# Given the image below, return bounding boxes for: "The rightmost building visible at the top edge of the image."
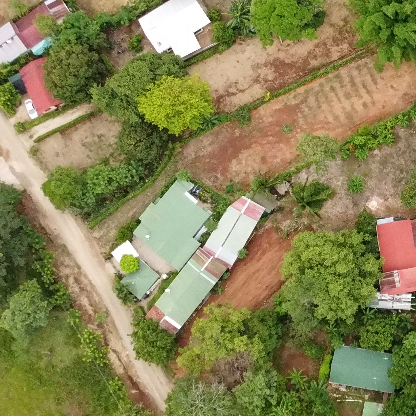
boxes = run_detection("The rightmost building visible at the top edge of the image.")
[138,0,211,57]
